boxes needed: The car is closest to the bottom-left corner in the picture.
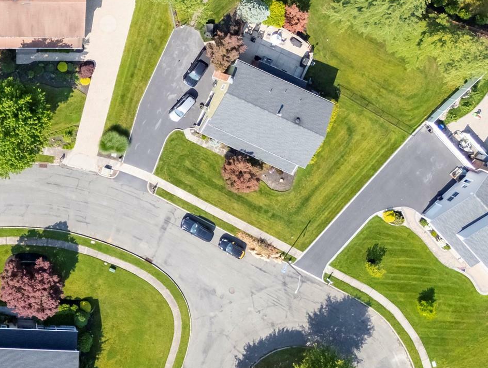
[178,216,216,243]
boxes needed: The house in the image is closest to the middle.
[196,59,335,175]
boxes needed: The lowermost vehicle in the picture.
[216,236,246,259]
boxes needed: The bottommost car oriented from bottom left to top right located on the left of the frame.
[168,90,199,123]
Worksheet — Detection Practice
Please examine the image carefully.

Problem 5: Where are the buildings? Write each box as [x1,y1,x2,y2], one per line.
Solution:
[196,59,335,175]
[0,0,86,54]
[422,157,488,278]
[0,318,80,368]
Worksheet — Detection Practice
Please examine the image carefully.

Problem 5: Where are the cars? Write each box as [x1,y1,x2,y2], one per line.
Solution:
[216,236,246,259]
[182,55,210,89]
[178,216,216,243]
[168,90,199,123]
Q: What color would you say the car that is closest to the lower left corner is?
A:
blue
